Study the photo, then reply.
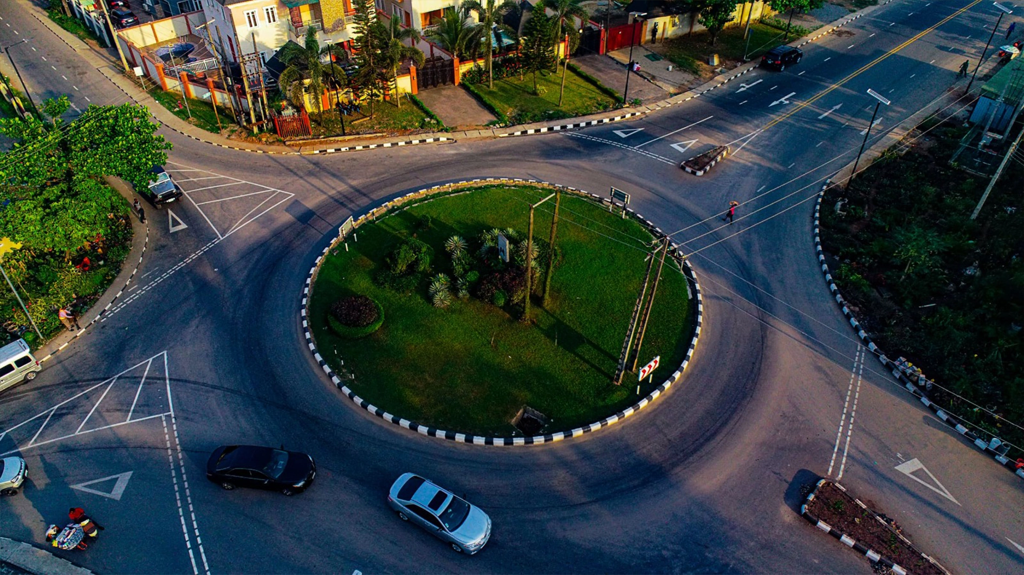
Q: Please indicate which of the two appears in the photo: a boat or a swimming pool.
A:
swimming pool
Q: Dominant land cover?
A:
paved ground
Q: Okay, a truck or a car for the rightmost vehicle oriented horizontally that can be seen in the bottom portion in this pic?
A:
car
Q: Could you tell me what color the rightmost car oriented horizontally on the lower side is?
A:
black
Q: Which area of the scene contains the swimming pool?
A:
top left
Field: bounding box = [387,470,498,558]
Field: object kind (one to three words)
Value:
car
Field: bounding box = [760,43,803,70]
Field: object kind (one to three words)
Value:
car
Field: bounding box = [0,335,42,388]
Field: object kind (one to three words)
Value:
van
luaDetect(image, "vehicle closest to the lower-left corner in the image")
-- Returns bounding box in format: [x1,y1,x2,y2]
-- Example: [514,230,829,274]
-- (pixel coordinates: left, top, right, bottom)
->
[0,443,35,494]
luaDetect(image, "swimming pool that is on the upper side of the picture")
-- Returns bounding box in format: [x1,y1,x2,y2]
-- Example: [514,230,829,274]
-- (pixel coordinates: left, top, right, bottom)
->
[143,34,220,82]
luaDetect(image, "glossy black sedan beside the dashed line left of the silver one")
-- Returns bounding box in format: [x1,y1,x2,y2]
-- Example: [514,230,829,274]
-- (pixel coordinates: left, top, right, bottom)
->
[202,443,320,496]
